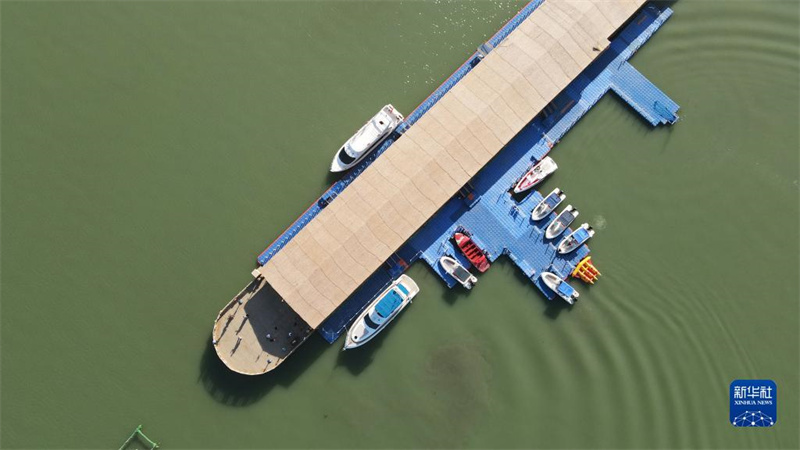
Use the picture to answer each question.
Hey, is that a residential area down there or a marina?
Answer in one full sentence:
What you see here is a marina.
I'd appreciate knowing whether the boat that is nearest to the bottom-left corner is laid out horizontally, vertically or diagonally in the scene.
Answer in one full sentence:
I'd say the boat that is nearest to the bottom-left corner is aligned diagonally in the picture.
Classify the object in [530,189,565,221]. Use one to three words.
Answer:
boat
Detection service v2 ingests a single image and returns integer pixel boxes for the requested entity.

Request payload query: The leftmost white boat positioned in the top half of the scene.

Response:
[330,105,406,174]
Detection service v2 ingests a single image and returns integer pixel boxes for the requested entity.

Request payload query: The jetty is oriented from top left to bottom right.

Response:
[611,67,678,127]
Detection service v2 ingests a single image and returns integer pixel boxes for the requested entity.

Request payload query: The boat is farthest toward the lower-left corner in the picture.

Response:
[334,274,419,351]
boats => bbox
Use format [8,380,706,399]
[334,274,419,351]
[542,206,577,239]
[556,223,592,255]
[330,105,406,174]
[504,156,558,198]
[448,234,489,273]
[530,189,565,221]
[439,248,476,288]
[541,264,578,305]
